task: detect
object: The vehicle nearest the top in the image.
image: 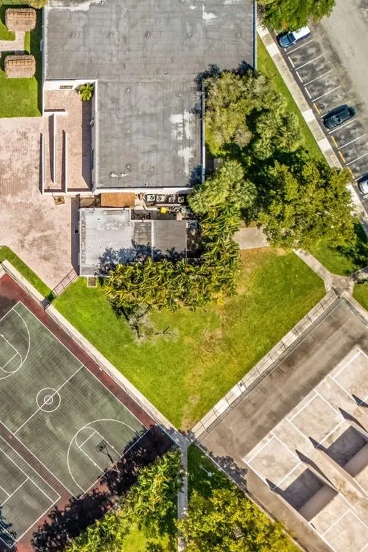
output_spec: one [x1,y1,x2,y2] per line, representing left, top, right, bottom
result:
[274,22,314,51]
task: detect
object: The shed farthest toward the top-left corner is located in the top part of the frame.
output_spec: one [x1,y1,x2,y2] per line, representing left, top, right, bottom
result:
[5,8,37,34]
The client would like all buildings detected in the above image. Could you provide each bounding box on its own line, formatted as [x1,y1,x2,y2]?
[42,0,255,193]
[75,208,153,277]
[5,8,37,34]
[3,55,36,79]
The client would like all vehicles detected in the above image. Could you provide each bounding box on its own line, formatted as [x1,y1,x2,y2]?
[321,105,353,128]
[274,22,314,51]
[355,178,368,195]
